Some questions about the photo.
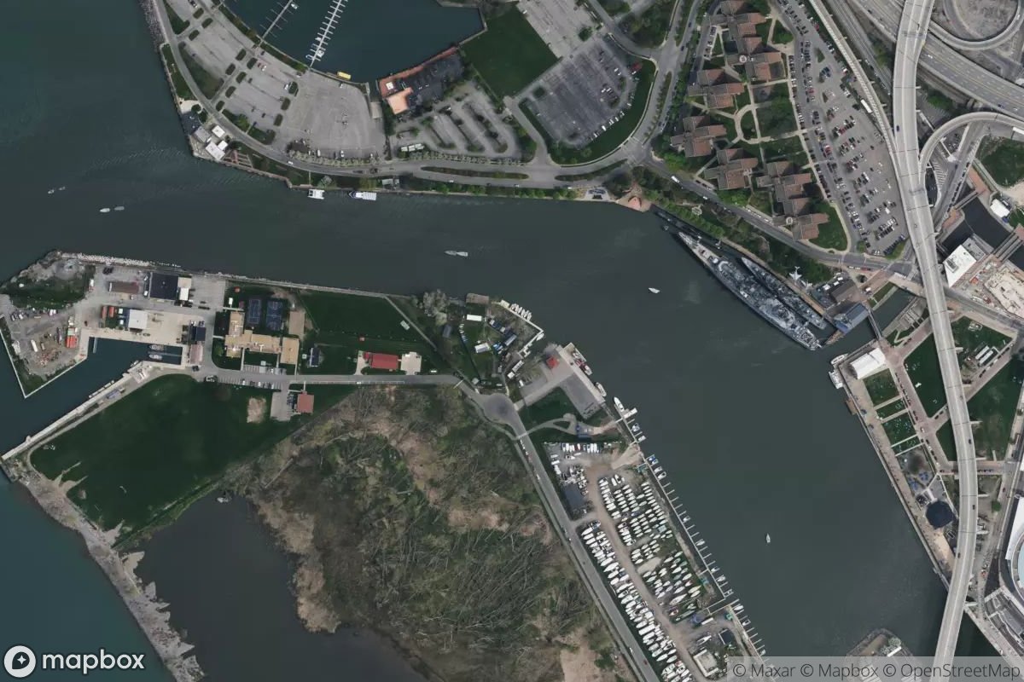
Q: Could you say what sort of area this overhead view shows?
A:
port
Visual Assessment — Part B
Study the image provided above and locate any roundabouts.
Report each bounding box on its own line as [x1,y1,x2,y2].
[478,393,523,426]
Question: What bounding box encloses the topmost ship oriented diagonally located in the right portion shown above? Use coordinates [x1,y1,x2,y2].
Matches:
[654,208,729,256]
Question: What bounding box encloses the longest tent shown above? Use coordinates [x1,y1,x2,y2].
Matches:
[850,347,887,379]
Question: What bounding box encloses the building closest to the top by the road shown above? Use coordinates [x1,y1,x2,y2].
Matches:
[710,0,761,55]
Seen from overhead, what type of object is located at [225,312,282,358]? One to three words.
building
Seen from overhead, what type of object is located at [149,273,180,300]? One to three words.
building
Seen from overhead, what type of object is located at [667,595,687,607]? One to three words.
boat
